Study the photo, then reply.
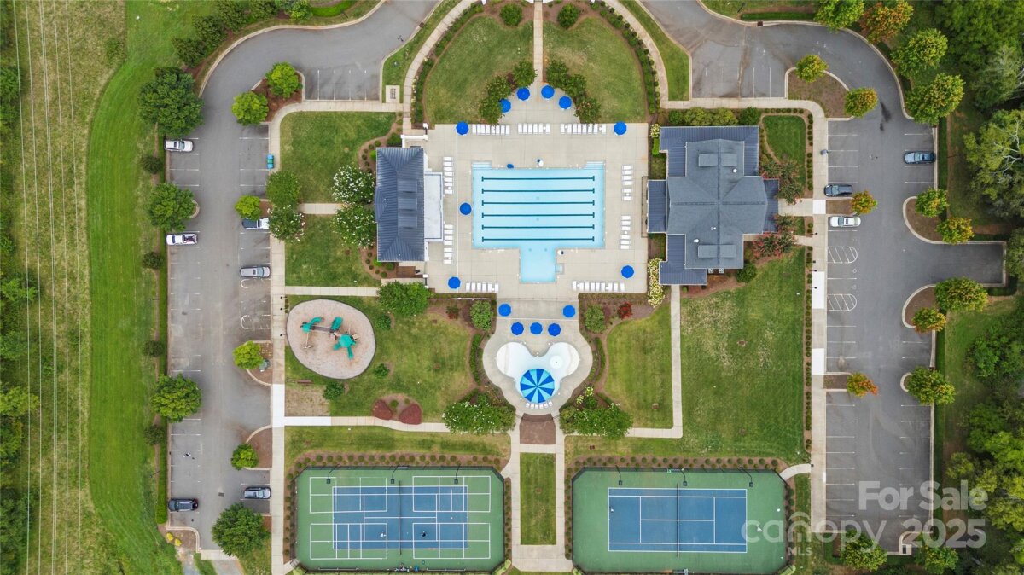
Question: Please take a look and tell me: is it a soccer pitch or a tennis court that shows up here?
tennis court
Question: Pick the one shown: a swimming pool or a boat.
swimming pool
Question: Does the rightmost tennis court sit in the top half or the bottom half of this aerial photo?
bottom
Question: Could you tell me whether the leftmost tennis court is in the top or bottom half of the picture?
bottom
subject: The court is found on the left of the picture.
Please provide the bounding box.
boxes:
[296,471,503,571]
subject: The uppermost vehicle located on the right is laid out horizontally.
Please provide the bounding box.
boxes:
[904,150,936,164]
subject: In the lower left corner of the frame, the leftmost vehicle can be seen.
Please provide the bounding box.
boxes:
[169,498,199,512]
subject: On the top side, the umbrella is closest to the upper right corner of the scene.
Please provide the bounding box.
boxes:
[614,121,627,134]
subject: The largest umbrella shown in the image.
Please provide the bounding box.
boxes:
[520,370,555,404]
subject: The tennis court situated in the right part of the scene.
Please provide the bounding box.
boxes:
[574,472,786,573]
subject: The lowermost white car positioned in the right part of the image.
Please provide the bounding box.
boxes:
[830,215,861,228]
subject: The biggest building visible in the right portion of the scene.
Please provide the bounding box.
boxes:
[648,126,779,285]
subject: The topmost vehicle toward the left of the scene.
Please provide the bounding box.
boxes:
[163,139,195,152]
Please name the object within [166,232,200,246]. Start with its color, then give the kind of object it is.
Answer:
white vehicle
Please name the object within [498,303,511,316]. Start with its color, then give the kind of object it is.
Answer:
blue umbrella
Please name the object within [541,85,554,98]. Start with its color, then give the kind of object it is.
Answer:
blue umbrella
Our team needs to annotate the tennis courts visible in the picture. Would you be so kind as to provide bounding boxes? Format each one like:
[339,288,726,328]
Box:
[574,472,786,573]
[296,471,503,571]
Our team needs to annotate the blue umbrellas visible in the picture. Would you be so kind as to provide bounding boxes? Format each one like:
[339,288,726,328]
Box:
[541,85,554,98]
[621,265,634,278]
[455,122,468,134]
[498,303,511,316]
[614,121,627,134]
[499,99,511,112]
[517,87,530,100]
[559,96,572,109]
[511,322,524,335]
[530,322,543,335]
[563,305,576,318]
[548,323,561,336]
[459,202,472,215]
[448,276,461,289]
